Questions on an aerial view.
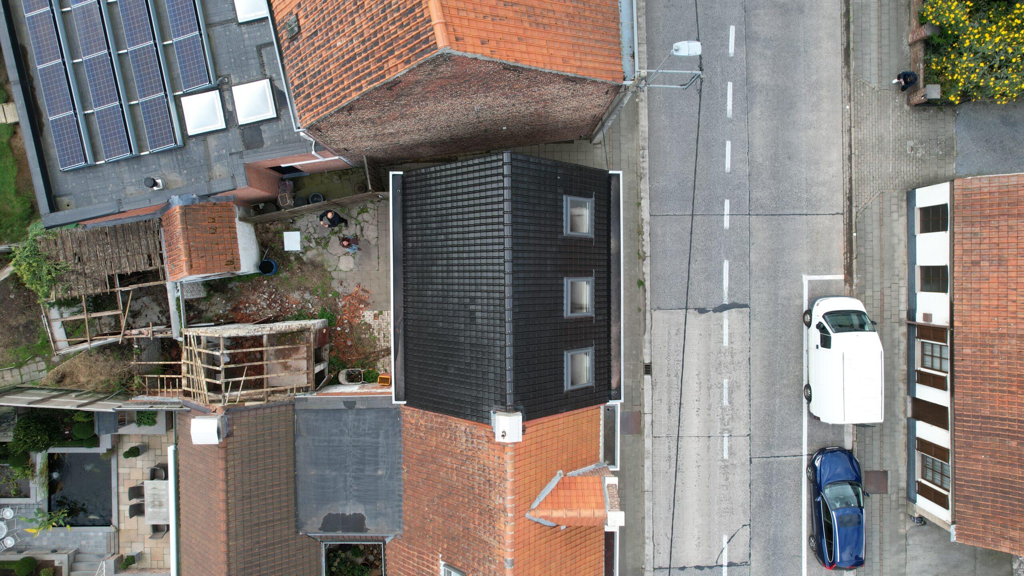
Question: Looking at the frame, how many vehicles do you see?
2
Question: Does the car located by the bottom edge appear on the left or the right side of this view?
right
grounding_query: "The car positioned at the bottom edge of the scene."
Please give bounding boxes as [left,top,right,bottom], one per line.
[806,444,873,571]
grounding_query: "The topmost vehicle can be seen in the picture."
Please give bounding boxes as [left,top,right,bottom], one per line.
[802,296,881,424]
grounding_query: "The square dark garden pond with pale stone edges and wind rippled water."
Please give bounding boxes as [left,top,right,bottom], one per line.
[29,444,125,532]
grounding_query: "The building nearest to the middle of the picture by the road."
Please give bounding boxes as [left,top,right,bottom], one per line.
[390,147,624,427]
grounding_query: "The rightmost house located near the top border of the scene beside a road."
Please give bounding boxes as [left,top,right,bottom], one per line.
[262,0,637,170]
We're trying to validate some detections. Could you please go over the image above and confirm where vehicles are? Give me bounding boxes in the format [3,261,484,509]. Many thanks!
[806,444,873,571]
[802,296,881,424]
